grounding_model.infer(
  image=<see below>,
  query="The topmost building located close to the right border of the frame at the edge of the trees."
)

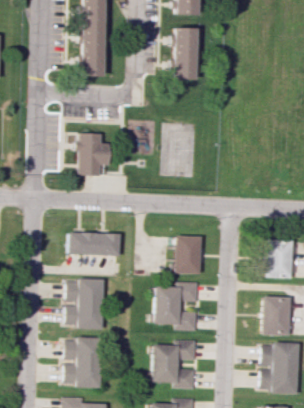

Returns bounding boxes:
[264,241,293,279]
